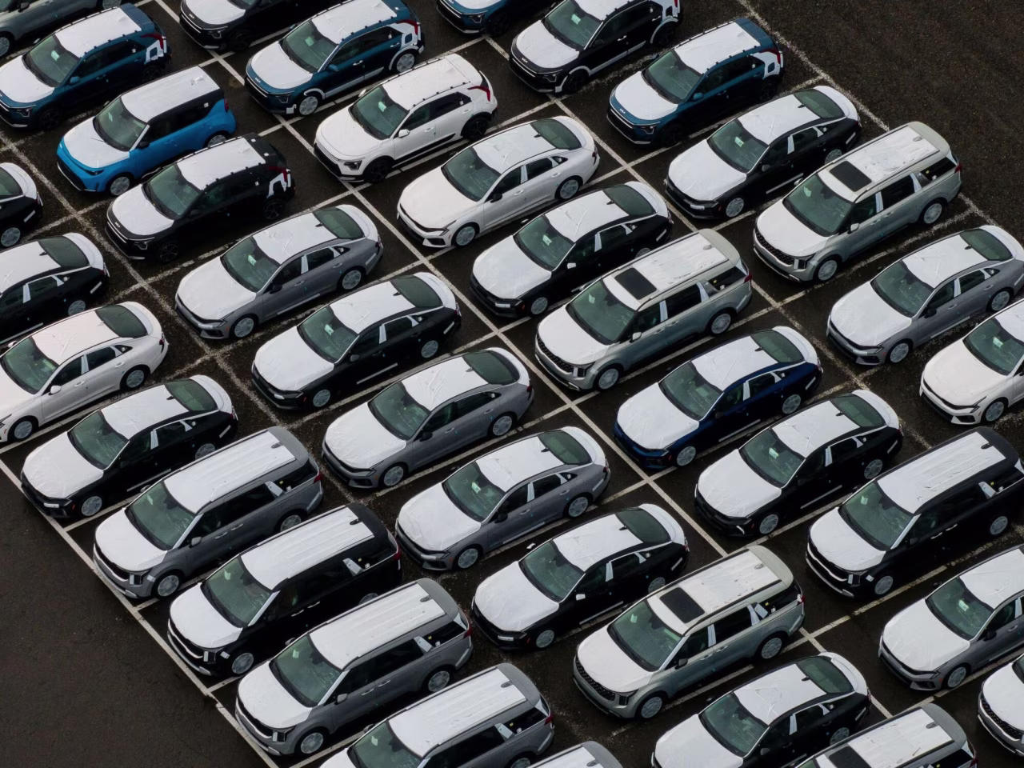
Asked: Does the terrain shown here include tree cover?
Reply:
No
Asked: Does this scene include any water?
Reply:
No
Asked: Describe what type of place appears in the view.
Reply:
parking lot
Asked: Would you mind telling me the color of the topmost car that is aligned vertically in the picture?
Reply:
black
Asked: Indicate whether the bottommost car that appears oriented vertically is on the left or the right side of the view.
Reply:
right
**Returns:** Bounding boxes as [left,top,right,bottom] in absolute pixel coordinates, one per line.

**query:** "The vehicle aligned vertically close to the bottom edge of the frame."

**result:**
[974,631,1024,743]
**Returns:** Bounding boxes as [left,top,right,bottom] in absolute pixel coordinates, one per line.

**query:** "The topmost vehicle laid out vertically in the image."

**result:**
[0,159,40,249]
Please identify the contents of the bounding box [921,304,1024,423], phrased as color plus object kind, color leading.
white car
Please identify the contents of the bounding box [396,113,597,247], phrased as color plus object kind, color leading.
white car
